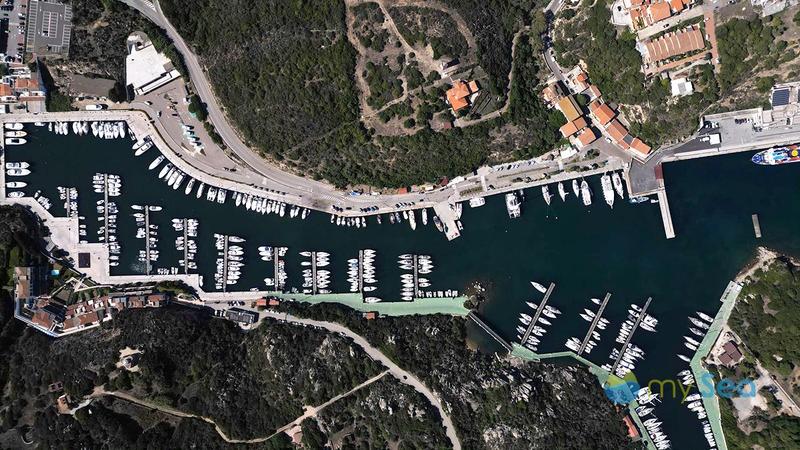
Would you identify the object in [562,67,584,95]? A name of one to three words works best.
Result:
house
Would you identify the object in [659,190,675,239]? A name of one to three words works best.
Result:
pier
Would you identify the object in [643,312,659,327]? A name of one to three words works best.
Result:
boat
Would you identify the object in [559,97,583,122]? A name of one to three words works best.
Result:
house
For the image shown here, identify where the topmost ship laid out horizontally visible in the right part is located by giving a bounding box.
[753,145,800,166]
